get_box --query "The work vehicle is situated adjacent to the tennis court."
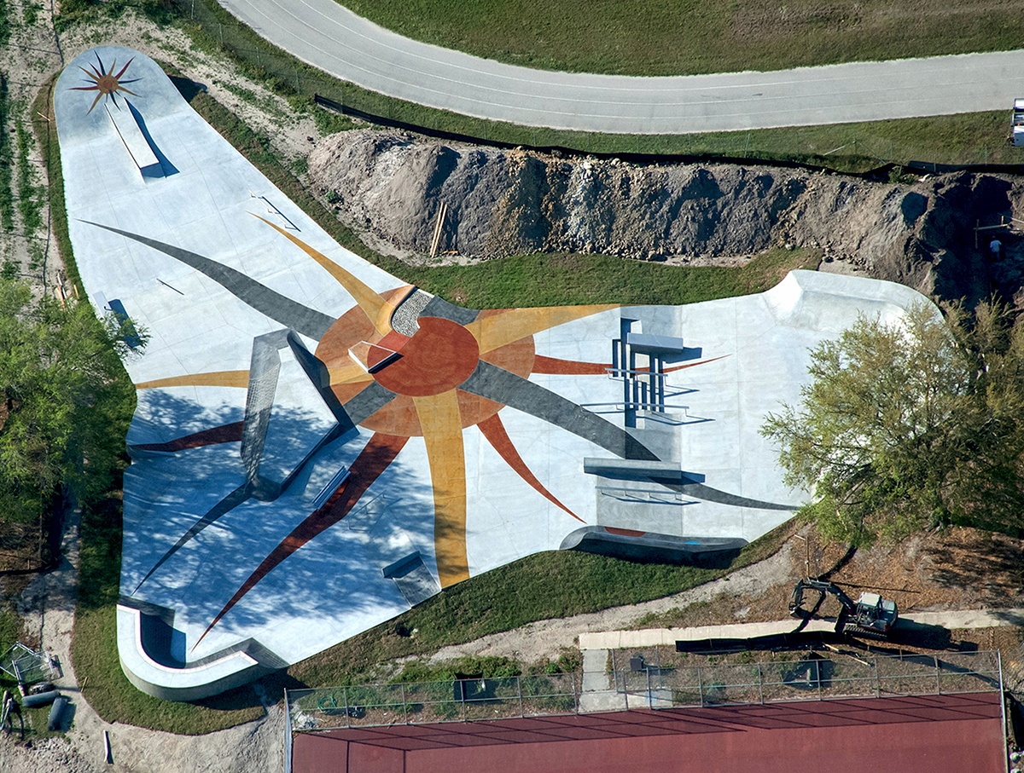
[785,569,904,645]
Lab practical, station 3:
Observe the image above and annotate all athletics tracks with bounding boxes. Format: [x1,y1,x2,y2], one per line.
[218,0,1024,133]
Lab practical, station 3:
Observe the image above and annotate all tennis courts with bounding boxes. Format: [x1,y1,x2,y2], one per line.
[291,692,1010,773]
